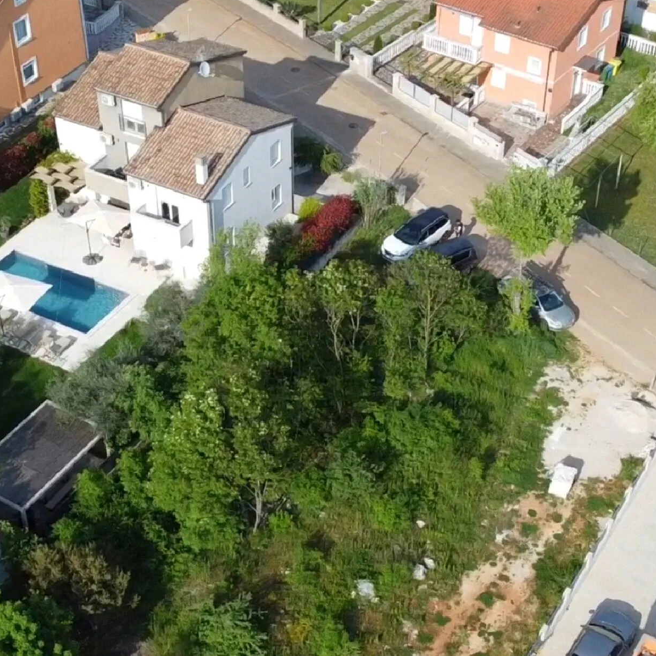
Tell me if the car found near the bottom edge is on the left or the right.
right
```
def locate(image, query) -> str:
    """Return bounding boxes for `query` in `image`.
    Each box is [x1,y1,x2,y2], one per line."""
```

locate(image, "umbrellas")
[0,268,55,313]
[67,199,131,263]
